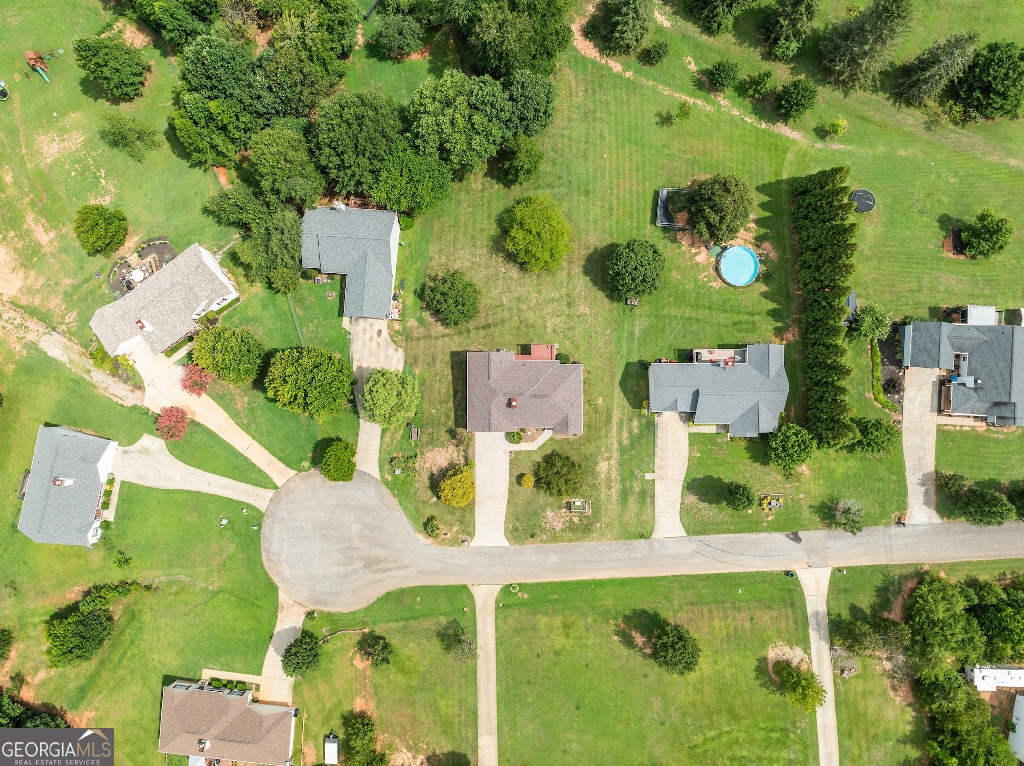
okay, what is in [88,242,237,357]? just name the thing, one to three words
house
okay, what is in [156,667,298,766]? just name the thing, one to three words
house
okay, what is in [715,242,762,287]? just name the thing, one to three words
swimming pool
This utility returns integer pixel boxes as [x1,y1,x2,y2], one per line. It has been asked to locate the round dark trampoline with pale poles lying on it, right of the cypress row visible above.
[851,188,876,213]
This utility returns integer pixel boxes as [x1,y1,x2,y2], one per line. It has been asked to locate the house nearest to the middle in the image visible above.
[466,351,583,435]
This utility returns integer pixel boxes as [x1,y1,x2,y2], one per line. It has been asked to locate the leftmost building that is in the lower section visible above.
[17,425,121,548]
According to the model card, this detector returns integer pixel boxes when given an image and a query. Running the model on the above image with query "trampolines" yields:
[0,85,14,103]
[851,188,876,213]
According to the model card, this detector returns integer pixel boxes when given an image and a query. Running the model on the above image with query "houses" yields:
[648,343,792,437]
[88,242,237,357]
[17,425,121,548]
[902,321,1024,427]
[998,688,1024,750]
[156,667,298,766]
[299,201,398,320]
[466,351,583,435]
